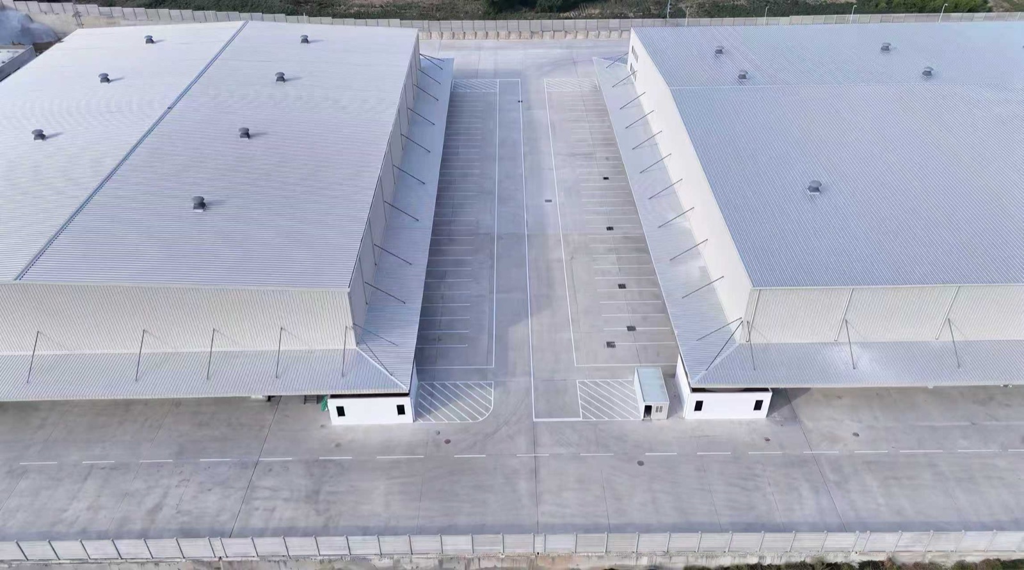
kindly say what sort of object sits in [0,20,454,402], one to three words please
warehouse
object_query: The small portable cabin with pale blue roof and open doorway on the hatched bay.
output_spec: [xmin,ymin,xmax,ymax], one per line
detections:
[635,367,669,422]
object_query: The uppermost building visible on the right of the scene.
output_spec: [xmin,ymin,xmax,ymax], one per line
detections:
[592,22,1024,390]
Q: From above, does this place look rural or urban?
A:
urban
